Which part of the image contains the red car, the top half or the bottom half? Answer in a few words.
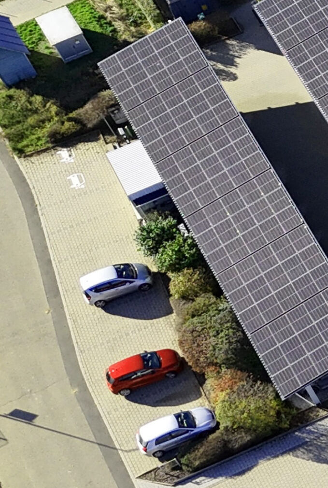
bottom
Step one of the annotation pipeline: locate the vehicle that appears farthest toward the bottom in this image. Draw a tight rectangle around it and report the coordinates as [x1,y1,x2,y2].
[135,407,215,456]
